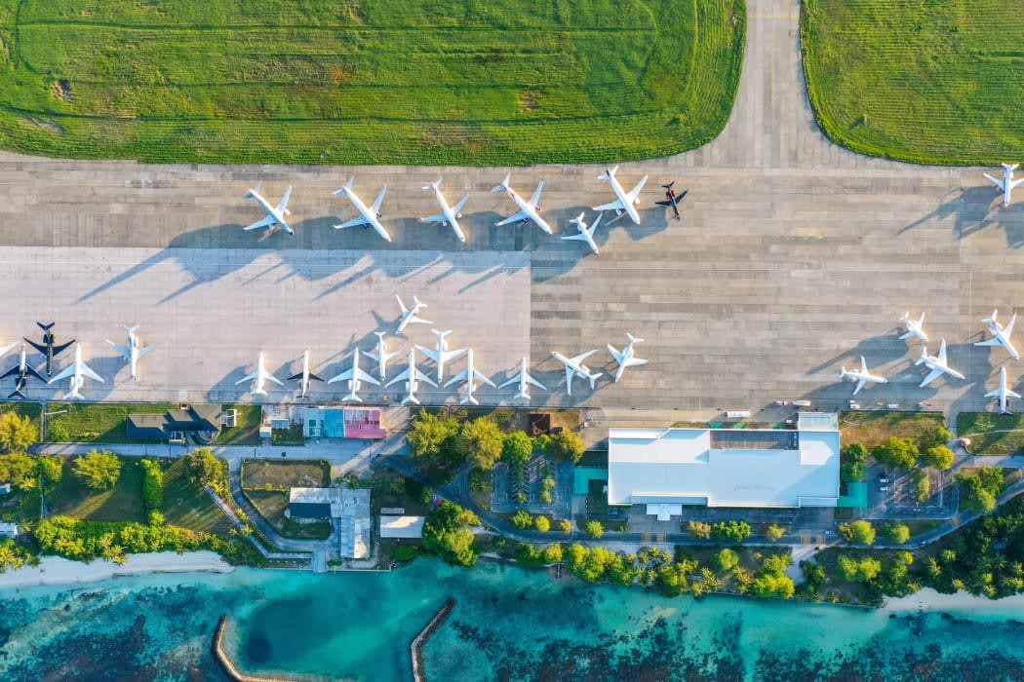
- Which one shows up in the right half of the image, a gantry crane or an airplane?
airplane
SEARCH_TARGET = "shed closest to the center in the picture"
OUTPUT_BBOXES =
[529,414,563,434]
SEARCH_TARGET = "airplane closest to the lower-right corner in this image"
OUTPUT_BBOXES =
[985,367,1023,415]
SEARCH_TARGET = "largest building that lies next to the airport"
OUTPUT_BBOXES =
[601,411,843,519]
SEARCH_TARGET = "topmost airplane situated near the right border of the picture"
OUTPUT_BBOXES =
[985,160,1024,207]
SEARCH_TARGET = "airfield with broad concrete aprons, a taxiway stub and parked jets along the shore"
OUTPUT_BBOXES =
[0,0,1024,449]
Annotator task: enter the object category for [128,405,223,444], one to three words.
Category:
house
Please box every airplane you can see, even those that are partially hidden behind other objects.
[499,358,547,397]
[445,348,496,404]
[842,356,886,395]
[497,176,553,234]
[286,351,323,401]
[423,179,469,241]
[396,296,432,332]
[606,338,650,381]
[46,343,103,399]
[595,168,650,223]
[105,324,158,378]
[414,329,467,381]
[920,338,964,386]
[563,212,604,253]
[384,349,437,404]
[240,181,291,233]
[335,178,391,241]
[19,322,72,375]
[898,310,927,340]
[985,160,1024,207]
[361,331,401,378]
[552,347,600,394]
[985,367,1023,415]
[0,344,46,401]
[656,183,689,219]
[235,353,283,398]
[328,348,380,402]
[978,312,1022,359]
